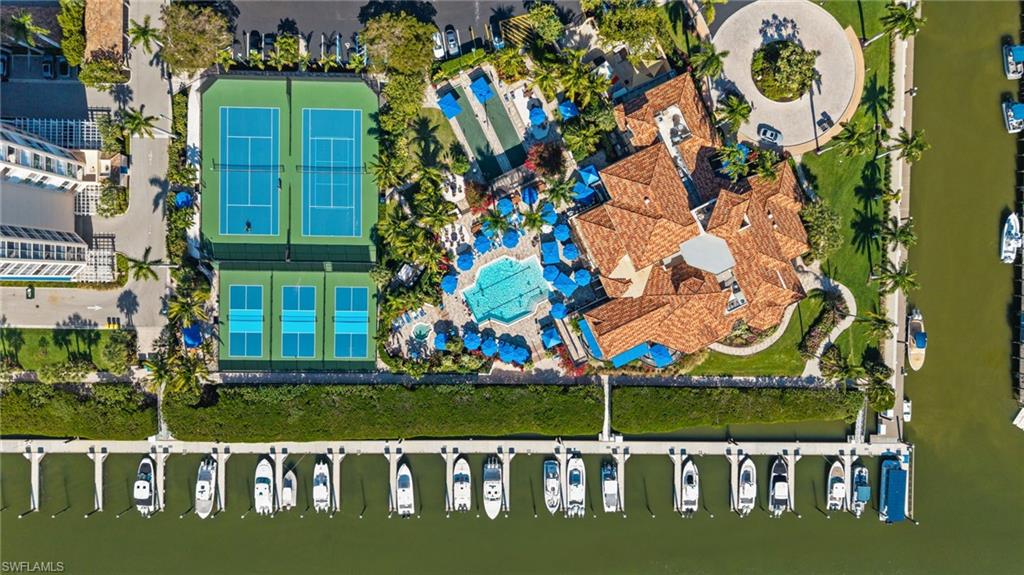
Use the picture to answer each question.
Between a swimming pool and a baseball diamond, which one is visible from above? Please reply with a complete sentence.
Looking from above, you can make out a swimming pool.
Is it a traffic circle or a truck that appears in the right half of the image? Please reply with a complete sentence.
Looking in the right half of the image, you will find a traffic circle.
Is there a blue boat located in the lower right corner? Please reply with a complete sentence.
Yes, there is a blue boat in the lower right corner.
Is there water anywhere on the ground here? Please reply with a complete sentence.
Yes, some water is visible.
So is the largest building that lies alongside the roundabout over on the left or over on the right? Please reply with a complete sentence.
The largest building that lies alongside the roundabout is on the right side of the image.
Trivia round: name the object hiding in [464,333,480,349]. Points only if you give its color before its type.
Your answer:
blue umbrella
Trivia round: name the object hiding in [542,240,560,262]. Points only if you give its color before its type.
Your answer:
blue tent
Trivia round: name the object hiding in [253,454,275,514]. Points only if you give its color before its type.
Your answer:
white boat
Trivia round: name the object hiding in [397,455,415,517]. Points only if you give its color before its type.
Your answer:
white boat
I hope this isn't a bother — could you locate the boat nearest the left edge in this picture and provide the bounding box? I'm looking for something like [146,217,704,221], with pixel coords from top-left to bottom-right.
[131,455,156,513]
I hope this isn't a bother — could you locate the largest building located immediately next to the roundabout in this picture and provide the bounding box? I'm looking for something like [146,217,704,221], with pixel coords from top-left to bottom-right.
[576,72,810,368]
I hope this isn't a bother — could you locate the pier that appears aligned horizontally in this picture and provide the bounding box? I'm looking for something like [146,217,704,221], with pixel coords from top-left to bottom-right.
[0,440,916,520]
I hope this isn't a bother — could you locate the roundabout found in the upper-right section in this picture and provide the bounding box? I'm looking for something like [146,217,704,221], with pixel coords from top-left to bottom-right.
[710,2,861,152]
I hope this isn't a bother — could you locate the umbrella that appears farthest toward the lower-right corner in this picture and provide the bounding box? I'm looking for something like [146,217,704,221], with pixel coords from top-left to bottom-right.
[649,344,674,367]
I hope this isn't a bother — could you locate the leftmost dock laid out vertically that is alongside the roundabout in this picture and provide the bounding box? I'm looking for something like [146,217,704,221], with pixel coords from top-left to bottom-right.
[870,0,920,441]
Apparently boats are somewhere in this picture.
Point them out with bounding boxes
[905,310,927,371]
[313,454,331,512]
[253,454,275,514]
[996,213,1020,265]
[131,455,156,513]
[543,454,560,515]
[567,456,586,513]
[482,457,502,520]
[738,454,756,514]
[999,95,1024,135]
[852,466,870,512]
[397,455,415,517]
[766,454,788,515]
[283,454,299,510]
[197,456,217,518]
[453,457,471,514]
[601,463,617,512]
[682,455,698,515]
[874,457,906,524]
[823,455,845,510]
